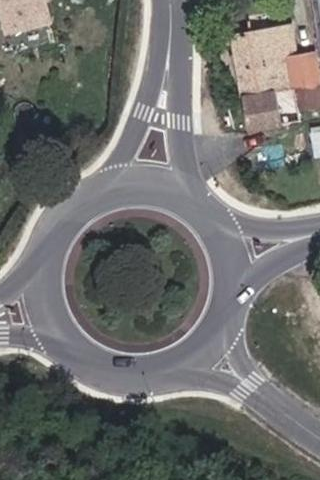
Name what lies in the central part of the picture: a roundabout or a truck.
roundabout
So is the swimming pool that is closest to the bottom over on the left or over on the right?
right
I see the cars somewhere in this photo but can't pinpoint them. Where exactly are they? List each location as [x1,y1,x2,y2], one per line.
[236,286,256,305]
[243,132,264,146]
[113,357,133,368]
[299,26,310,47]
